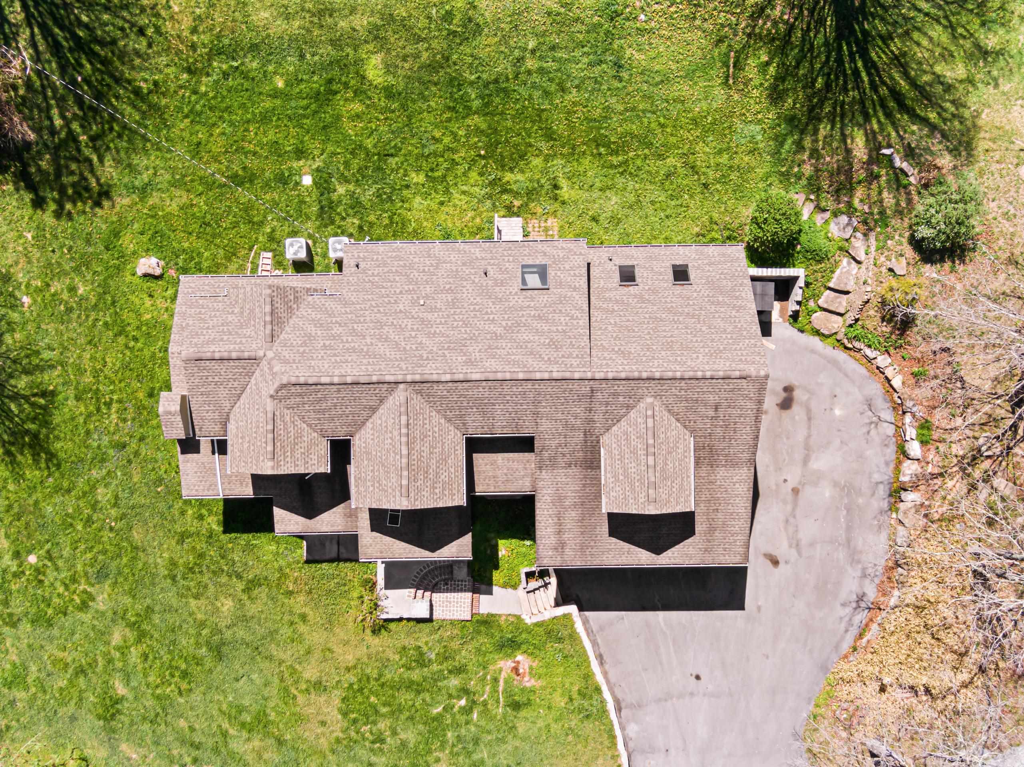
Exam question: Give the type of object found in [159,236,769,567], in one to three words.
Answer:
house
